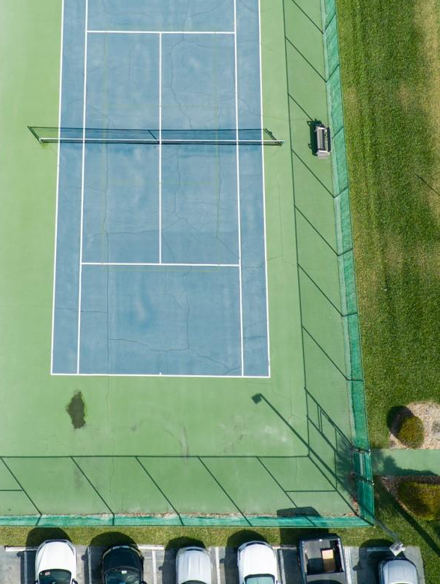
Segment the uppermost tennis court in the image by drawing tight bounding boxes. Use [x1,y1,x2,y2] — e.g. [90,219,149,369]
[0,0,357,516]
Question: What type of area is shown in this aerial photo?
sports ground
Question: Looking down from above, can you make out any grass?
Yes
